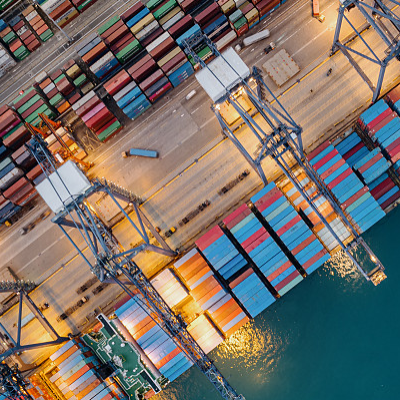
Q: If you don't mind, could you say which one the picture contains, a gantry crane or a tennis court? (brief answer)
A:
gantry crane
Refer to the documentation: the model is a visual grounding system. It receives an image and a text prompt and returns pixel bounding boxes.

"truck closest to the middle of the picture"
[180,199,211,223]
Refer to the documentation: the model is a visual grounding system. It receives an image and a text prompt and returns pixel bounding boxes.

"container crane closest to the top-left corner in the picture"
[18,105,92,173]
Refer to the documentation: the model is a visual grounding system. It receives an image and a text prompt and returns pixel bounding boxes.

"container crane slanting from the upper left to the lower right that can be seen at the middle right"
[192,36,395,288]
